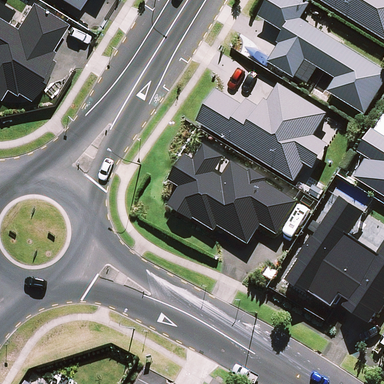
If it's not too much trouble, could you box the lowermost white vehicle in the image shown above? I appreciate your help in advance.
[232,363,260,384]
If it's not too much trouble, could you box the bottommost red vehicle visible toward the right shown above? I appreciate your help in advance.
[228,66,245,89]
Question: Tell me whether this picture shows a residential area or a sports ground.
residential area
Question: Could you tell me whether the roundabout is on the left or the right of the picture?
left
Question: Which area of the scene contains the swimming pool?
right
